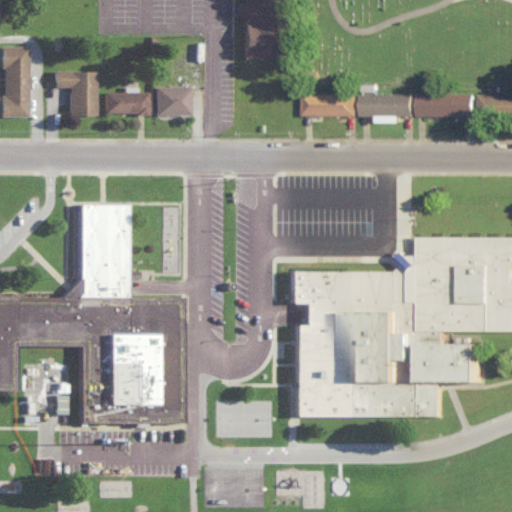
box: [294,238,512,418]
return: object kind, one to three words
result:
building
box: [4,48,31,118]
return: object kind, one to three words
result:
house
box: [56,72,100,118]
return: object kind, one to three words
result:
house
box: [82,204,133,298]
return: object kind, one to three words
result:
building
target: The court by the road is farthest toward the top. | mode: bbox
[216,402,271,438]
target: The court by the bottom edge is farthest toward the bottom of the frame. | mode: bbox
[206,462,262,507]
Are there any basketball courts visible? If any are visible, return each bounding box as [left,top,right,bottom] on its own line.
[206,462,262,507]
[216,402,271,438]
